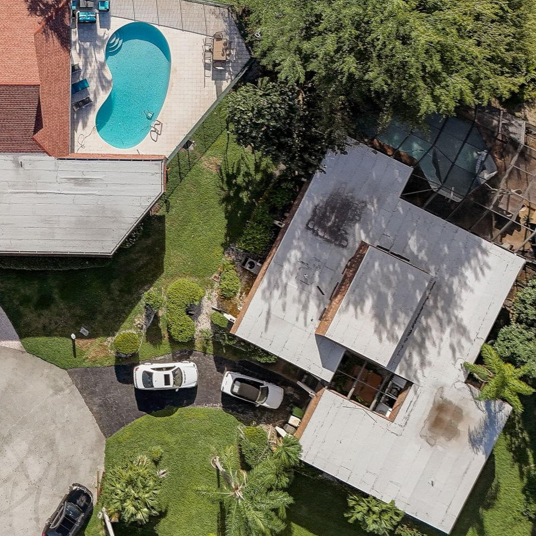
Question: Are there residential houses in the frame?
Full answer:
Yes, there is a residential house in the image.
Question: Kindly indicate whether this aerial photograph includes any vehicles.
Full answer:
Yes, the frame does contain a vehicle.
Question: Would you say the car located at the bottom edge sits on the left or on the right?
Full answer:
The car located at the bottom edge sits on the left side.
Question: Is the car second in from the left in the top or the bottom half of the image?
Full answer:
You can find the car second in from the left in the bottom half.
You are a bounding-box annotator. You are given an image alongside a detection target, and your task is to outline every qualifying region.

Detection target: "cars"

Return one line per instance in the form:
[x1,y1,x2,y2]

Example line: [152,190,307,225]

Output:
[132,361,197,393]
[220,368,284,411]
[42,482,91,536]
